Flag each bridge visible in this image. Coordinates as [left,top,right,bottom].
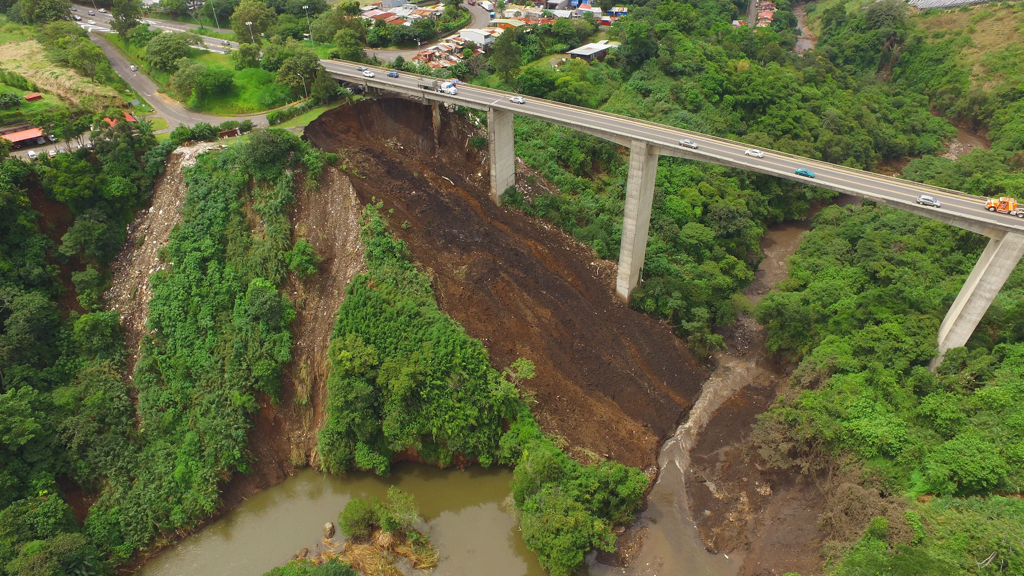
[321,61,1024,367]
